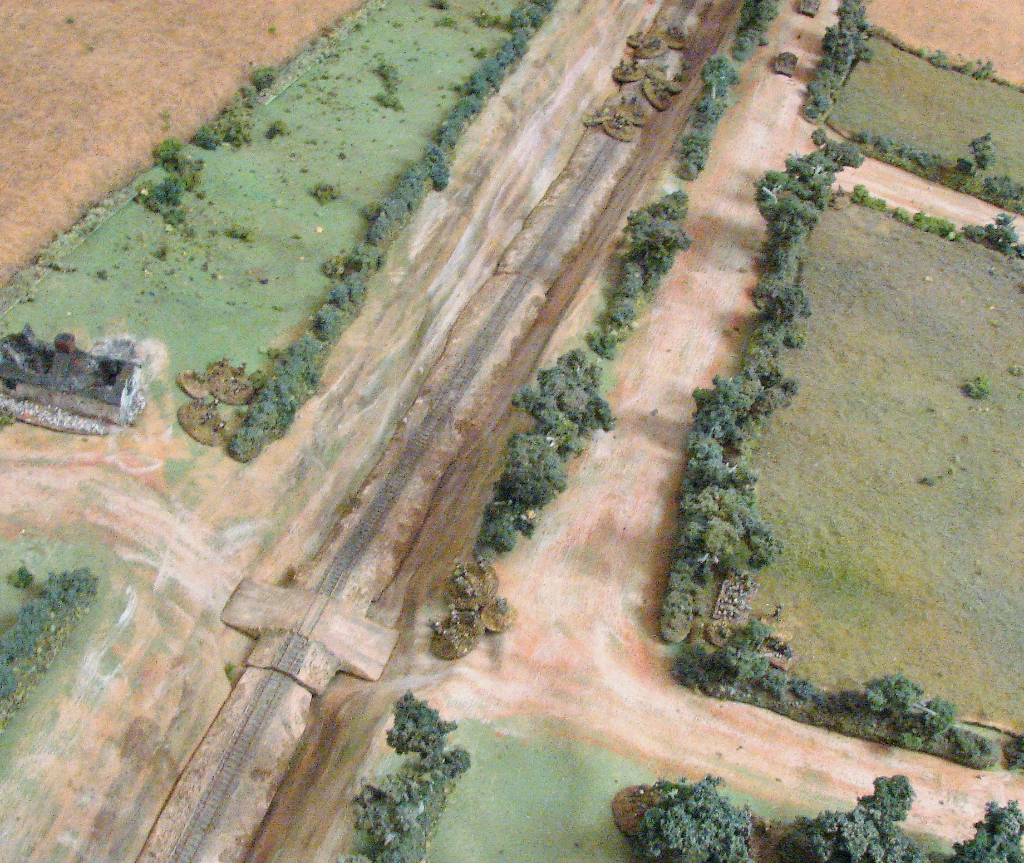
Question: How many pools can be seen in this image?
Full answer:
The count of pools is 0.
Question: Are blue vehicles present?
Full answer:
No, the frame has no blue vehicle in it.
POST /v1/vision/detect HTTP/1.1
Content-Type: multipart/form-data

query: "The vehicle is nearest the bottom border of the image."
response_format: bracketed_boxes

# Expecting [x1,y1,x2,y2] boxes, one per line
[770,49,799,77]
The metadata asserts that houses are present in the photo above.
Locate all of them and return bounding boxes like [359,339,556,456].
[0,327,148,444]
